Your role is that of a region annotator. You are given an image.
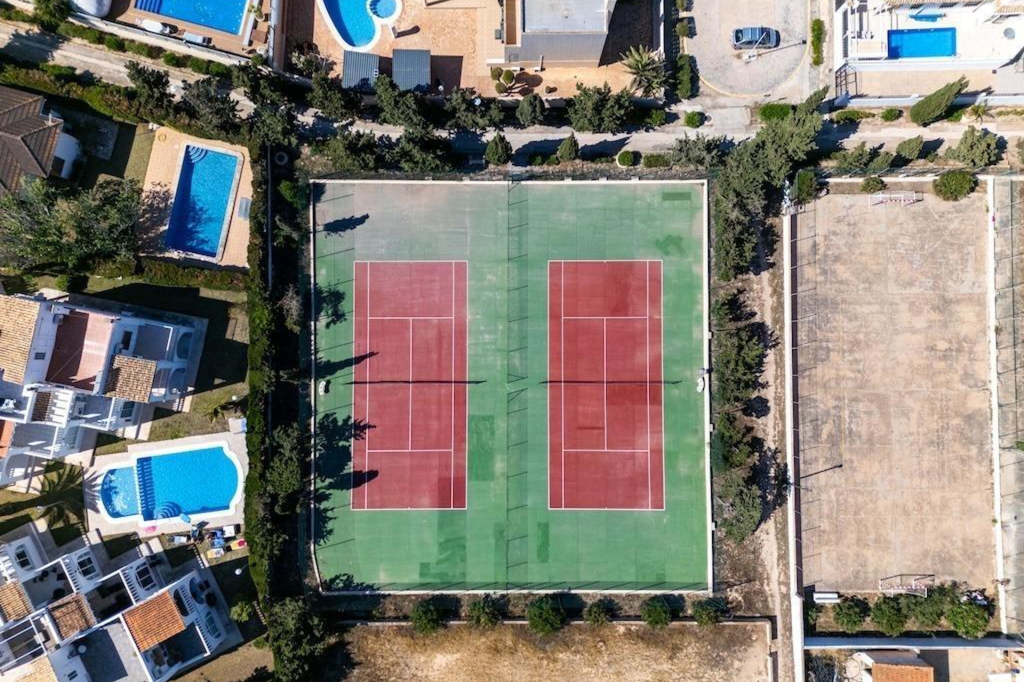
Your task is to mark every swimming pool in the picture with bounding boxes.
[885,24,960,61]
[98,464,142,521]
[311,0,379,51]
[131,0,249,38]
[161,139,245,262]
[134,443,242,525]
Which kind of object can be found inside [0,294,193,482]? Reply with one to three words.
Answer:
house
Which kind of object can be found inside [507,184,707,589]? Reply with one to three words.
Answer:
tennis court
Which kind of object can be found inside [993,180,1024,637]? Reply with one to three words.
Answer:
sports court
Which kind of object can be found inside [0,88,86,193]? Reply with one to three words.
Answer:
house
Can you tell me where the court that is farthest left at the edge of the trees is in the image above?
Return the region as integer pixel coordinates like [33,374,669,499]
[314,184,508,593]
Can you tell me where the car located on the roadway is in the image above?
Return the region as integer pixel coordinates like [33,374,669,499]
[733,24,778,49]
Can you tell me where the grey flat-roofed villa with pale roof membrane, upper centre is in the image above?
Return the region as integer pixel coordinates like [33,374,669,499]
[487,0,608,72]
